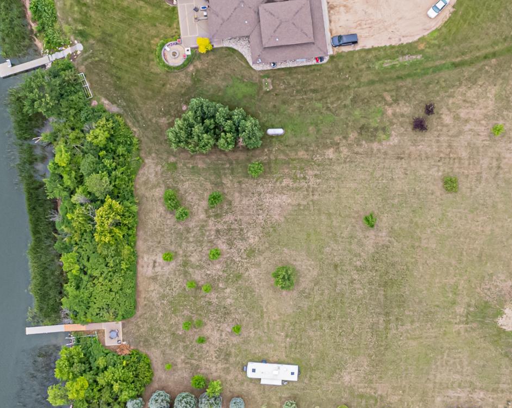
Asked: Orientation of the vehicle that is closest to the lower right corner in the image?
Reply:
horizontally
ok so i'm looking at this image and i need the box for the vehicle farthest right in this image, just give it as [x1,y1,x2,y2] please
[427,0,450,19]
